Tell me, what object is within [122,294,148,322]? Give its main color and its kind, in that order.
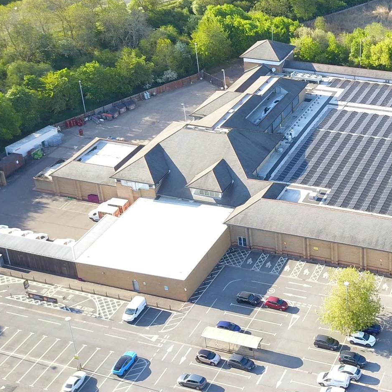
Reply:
white vehicle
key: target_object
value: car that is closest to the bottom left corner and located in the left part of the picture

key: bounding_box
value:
[60,371,89,392]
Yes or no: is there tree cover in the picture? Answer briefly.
Yes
